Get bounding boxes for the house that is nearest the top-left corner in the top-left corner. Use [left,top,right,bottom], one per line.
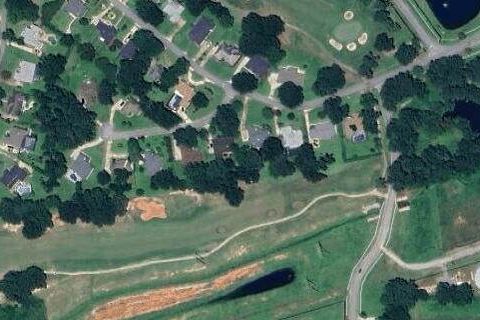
[20,24,44,49]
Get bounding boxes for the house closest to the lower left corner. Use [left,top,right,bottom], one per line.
[1,162,29,190]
